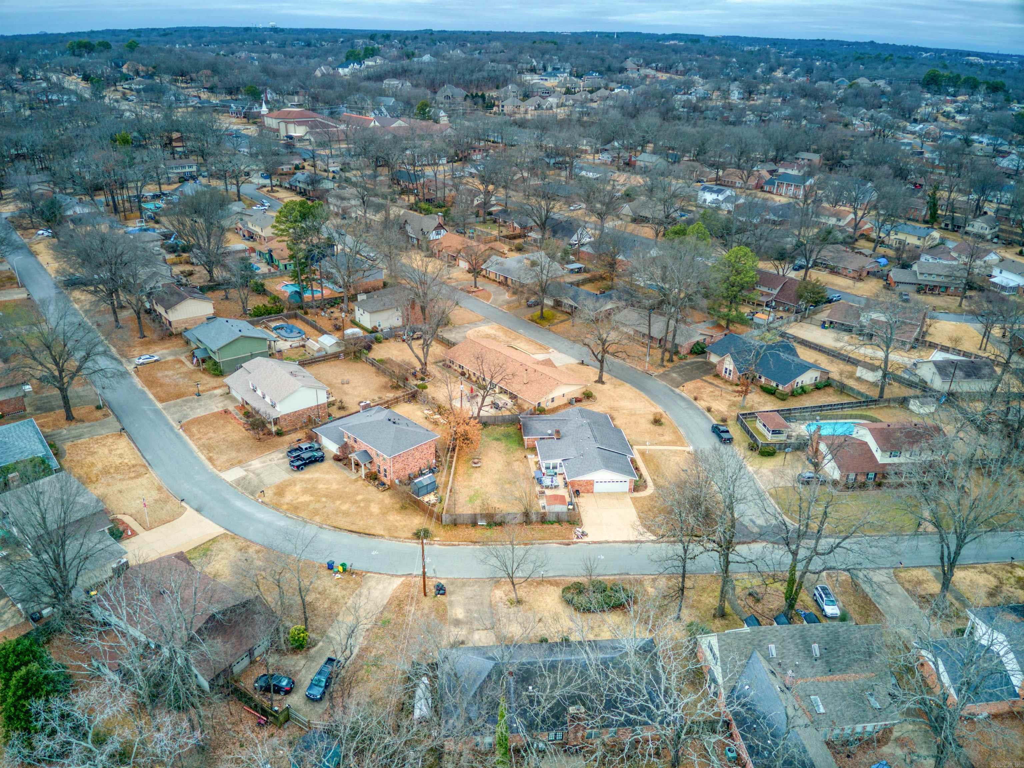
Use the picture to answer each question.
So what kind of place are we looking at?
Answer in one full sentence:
This looks like a residential area.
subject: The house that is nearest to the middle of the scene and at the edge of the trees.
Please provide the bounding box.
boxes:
[443,336,591,415]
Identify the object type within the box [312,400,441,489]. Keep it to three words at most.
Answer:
house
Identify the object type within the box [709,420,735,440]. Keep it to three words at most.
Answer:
vehicle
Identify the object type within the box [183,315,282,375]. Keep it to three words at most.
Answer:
building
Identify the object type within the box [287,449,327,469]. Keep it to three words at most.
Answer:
vehicle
